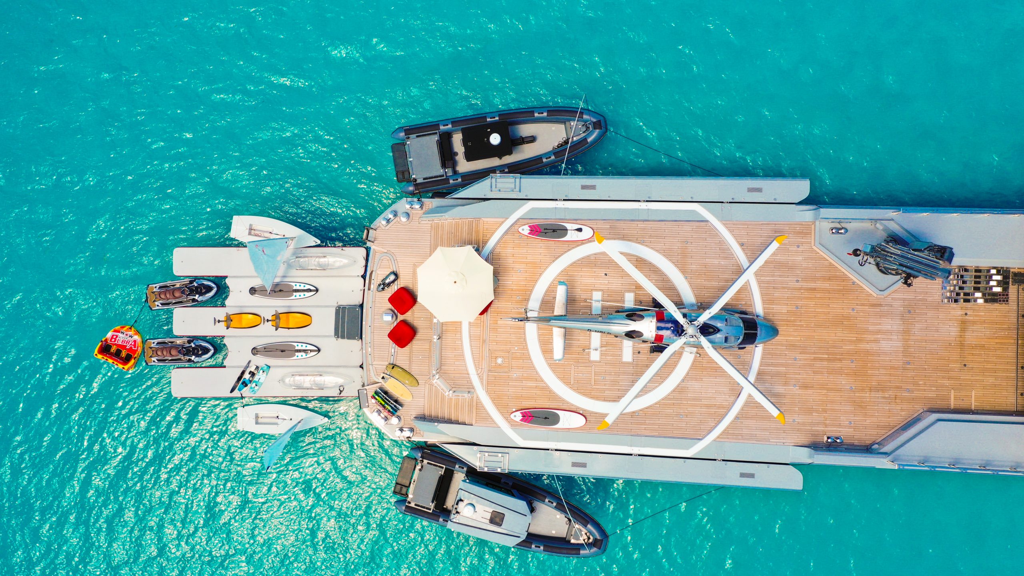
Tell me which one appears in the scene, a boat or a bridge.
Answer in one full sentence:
Of the two, only a boat appears.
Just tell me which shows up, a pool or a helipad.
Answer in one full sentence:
I can see a helipad in this picture.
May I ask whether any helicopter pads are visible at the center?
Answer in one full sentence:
Yes, the scene does show a helicopter pad at the center.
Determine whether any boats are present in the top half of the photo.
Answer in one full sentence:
Yes, in the top half of the photo there is a boat.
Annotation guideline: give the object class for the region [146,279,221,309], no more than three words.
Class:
boat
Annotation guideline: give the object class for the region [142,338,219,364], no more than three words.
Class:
boat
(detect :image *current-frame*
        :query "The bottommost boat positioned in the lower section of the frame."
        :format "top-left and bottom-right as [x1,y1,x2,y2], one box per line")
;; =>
[395,445,610,550]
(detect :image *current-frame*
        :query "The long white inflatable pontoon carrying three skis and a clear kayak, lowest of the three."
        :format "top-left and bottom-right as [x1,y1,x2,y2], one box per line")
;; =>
[172,367,364,397]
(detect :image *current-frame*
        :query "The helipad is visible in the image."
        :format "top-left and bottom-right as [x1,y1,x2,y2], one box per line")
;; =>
[460,201,766,456]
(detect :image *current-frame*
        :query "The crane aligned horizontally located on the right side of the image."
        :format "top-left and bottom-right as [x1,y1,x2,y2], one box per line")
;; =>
[845,236,959,287]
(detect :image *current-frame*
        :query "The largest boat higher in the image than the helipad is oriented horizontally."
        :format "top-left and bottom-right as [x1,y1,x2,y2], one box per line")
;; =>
[392,106,609,196]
